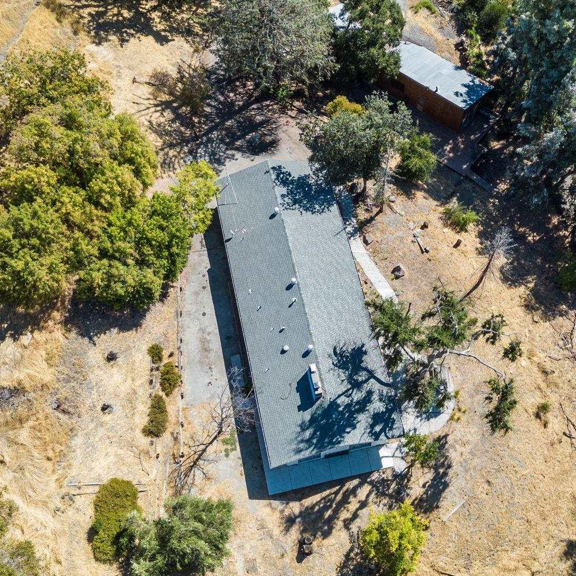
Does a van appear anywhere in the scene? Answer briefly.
No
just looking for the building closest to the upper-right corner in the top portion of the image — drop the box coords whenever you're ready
[394,37,494,131]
